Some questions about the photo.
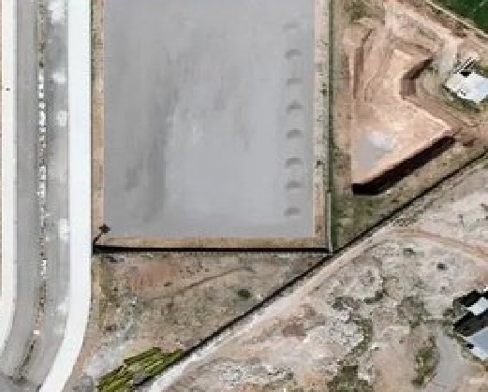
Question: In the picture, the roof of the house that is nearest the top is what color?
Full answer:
From above, the roof of the house that is nearest the top looks white.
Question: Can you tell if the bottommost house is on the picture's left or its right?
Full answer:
The bottommost house is on the right side of the image.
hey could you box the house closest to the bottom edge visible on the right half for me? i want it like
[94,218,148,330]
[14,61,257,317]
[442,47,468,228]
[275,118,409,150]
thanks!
[454,324,488,362]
